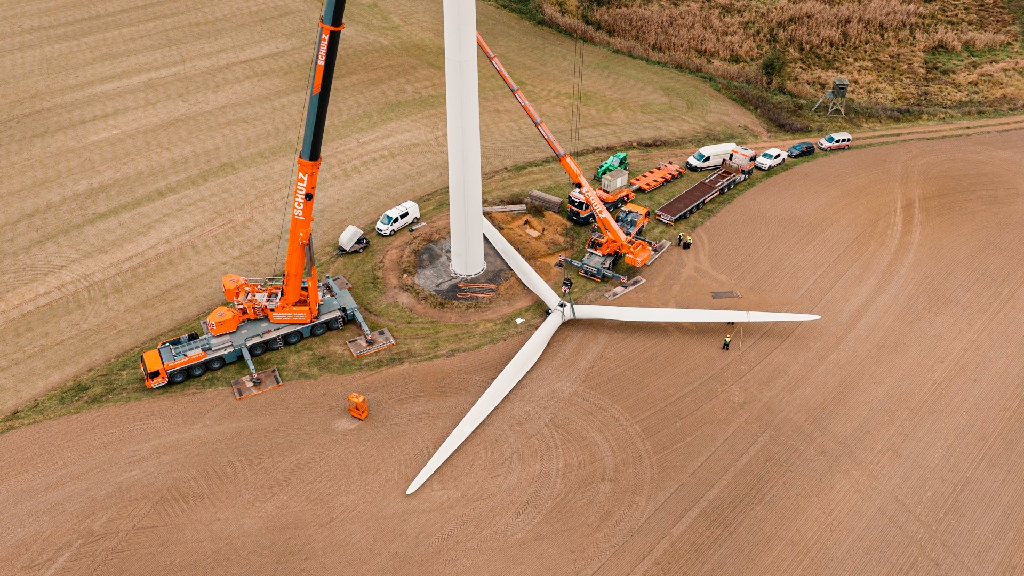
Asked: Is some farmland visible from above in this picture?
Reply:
Yes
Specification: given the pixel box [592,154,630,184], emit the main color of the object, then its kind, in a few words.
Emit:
green work vehicle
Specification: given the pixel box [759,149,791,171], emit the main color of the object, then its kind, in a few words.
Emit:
white truck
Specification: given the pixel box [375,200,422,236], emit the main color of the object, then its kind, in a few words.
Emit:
white van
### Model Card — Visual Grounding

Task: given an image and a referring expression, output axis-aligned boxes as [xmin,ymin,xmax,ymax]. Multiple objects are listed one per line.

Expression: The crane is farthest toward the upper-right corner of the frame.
[475,24,662,291]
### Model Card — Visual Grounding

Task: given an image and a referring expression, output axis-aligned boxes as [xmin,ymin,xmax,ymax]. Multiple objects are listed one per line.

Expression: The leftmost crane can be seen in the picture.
[135,0,374,390]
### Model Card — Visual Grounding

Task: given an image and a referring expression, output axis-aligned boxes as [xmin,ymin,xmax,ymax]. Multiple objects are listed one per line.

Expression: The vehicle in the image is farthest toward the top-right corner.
[817,132,853,152]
